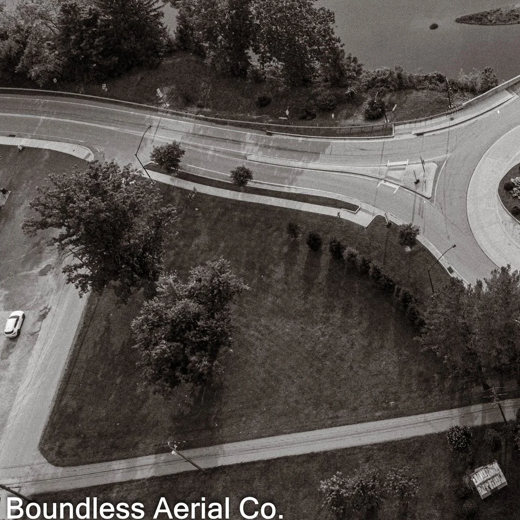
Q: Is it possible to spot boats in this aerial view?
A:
No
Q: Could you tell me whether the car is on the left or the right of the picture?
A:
left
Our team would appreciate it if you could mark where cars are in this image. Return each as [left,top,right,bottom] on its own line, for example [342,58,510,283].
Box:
[0,309,26,338]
